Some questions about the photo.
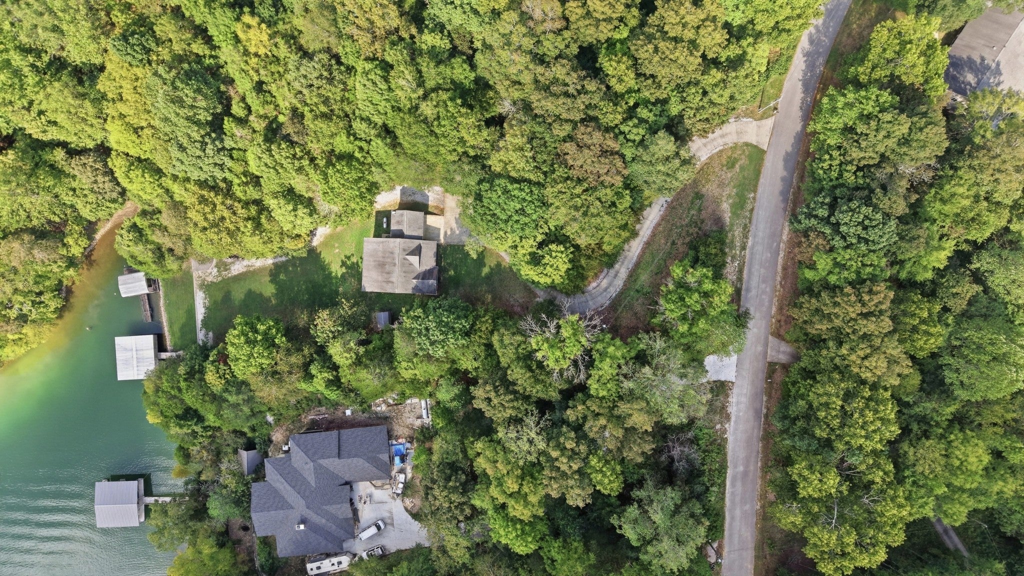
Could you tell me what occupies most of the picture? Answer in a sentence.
Most of the picture is covered by trees.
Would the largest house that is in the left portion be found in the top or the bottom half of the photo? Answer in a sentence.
Seen from above, the largest house that is in the left portion lies in the bottom half of the view.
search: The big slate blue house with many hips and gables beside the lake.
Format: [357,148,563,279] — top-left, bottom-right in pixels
[248,425,393,557]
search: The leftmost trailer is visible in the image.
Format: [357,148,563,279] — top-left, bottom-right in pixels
[305,551,357,576]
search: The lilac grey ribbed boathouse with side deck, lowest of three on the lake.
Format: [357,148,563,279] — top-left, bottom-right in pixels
[95,477,146,527]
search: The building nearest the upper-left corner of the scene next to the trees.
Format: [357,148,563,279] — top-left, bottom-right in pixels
[117,266,162,298]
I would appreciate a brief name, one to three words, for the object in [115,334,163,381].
building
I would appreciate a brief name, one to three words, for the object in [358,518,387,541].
vehicle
